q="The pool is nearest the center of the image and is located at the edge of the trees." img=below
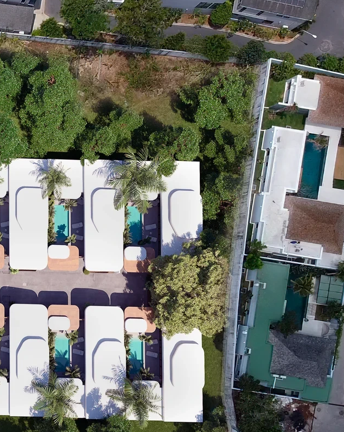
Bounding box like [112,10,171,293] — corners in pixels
[126,203,145,246]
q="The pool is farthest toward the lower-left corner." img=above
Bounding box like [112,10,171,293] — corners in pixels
[52,333,72,376]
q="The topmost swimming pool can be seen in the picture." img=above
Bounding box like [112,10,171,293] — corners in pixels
[296,131,331,200]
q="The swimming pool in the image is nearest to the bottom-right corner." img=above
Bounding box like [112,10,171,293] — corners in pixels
[284,273,311,330]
